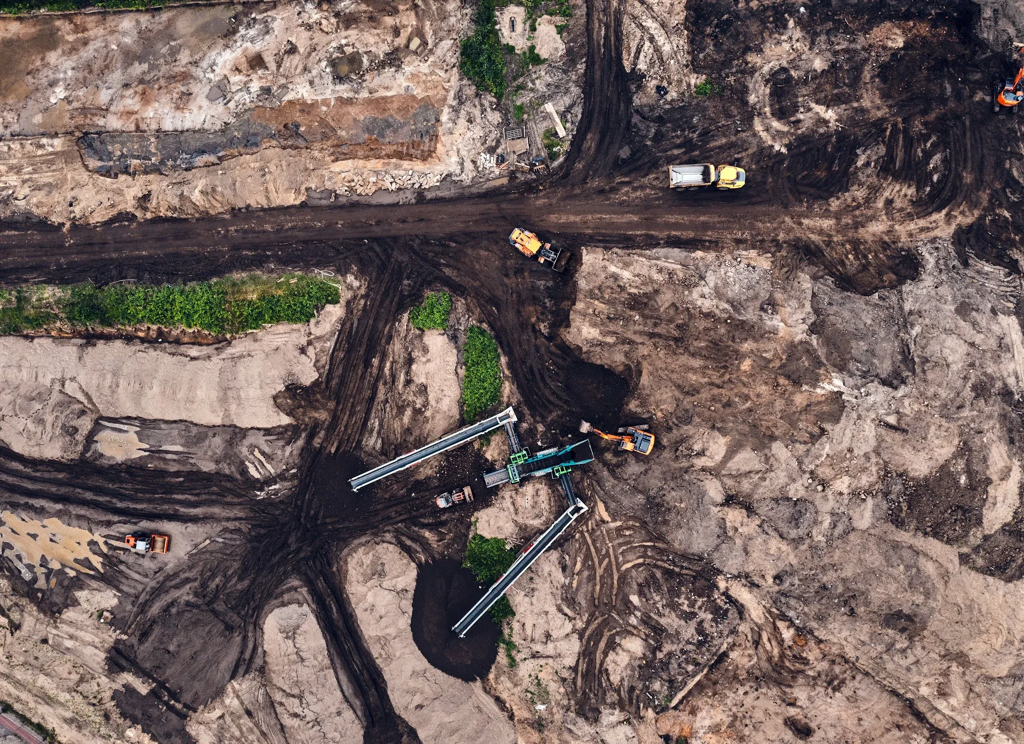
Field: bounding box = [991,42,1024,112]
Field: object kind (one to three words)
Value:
work vehicle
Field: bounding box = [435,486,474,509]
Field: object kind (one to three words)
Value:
work vehicle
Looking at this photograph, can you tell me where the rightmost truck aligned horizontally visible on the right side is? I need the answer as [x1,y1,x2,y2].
[668,162,745,190]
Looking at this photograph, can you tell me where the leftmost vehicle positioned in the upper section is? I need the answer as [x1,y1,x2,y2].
[509,228,566,271]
